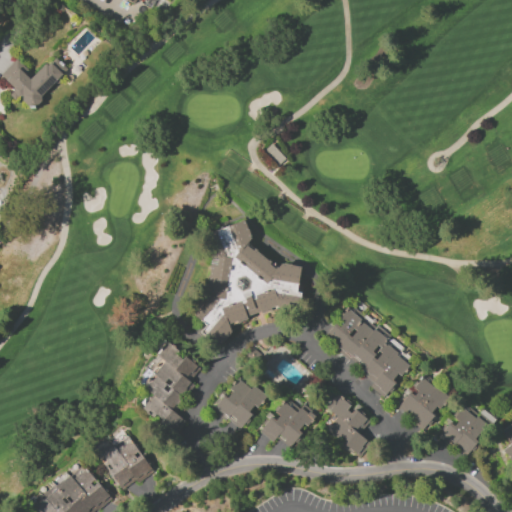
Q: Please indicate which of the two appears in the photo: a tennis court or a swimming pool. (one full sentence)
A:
This aerial view contains a swimming pool.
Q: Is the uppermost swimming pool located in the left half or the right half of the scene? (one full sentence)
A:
It is on the left.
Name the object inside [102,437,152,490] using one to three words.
house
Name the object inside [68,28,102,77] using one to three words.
swimming pool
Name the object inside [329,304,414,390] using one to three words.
house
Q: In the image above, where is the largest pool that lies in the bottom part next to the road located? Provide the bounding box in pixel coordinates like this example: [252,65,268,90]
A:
[260,344,315,391]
